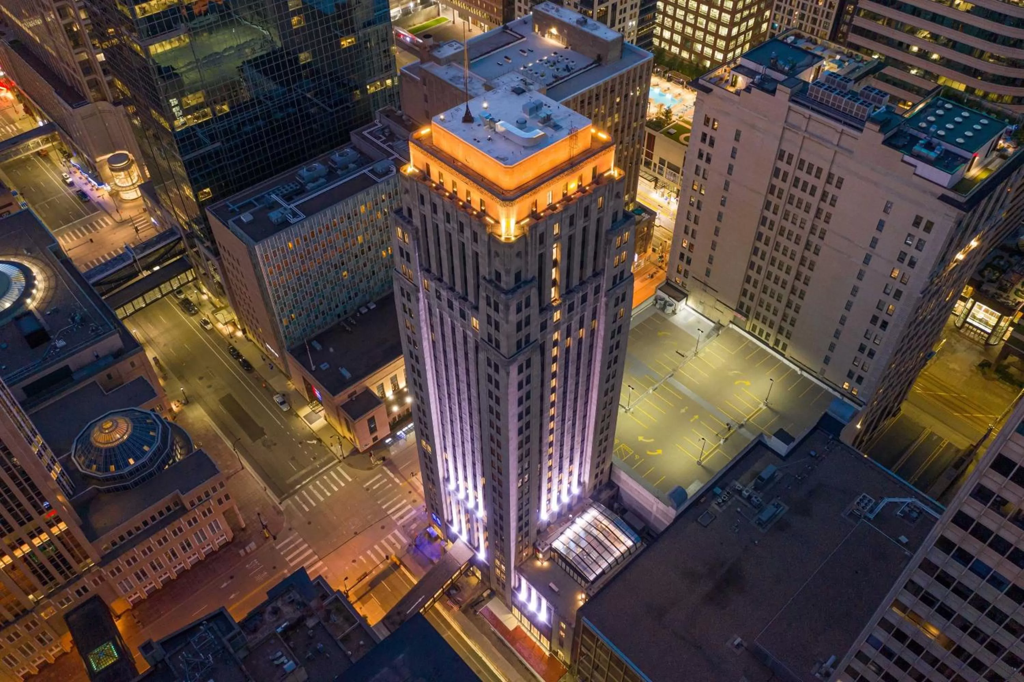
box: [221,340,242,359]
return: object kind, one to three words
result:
car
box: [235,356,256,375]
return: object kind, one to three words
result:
car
